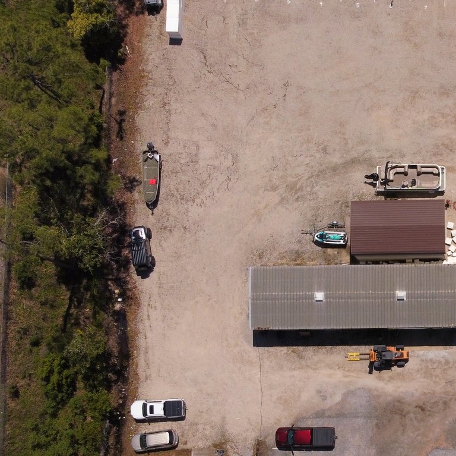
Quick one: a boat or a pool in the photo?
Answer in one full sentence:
Of the two, only a boat appears.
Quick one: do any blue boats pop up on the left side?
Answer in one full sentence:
No, no blue boat is visible on the left side.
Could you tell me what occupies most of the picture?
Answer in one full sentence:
Most of the picture is covered by paved ground.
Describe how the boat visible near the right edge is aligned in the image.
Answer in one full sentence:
The boat visible near the right edge is laid out from left to right.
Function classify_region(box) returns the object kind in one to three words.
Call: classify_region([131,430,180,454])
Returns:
car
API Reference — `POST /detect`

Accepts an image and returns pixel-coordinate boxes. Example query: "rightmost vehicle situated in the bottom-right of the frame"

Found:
[343,342,413,369]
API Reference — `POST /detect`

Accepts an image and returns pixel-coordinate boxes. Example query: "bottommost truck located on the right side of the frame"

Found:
[276,426,339,450]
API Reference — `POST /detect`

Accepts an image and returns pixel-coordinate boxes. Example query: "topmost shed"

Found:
[349,200,447,254]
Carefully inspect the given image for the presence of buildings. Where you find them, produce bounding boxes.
[349,200,447,254]
[247,265,456,332]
